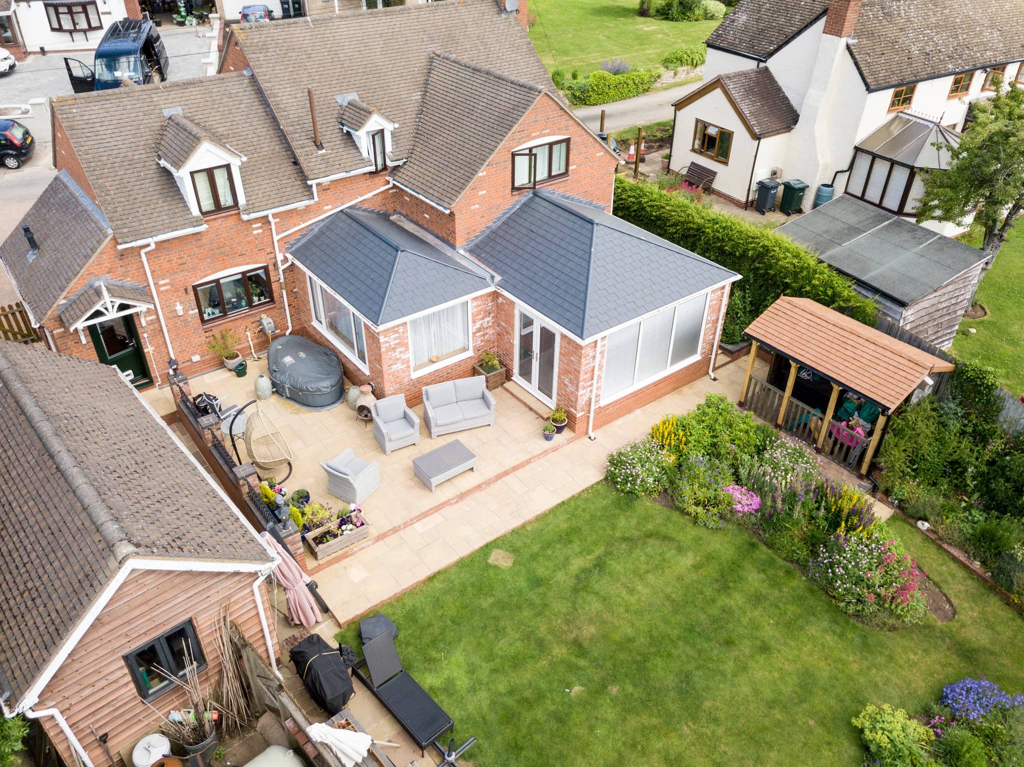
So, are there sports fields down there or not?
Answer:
No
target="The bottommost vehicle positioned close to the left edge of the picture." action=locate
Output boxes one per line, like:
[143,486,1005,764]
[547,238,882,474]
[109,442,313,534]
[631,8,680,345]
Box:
[0,105,44,160]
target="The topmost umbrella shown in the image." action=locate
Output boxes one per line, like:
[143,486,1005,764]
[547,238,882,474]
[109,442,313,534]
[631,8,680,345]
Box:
[260,512,328,643]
